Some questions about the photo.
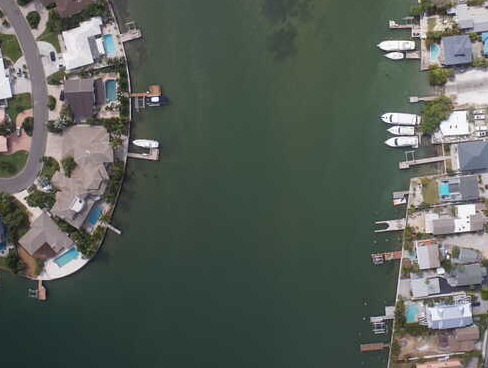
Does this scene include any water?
Yes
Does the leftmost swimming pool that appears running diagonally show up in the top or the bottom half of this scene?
bottom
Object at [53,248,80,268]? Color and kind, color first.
blue swimming pool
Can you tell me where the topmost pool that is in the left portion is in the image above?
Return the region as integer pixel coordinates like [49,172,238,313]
[103,33,115,54]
